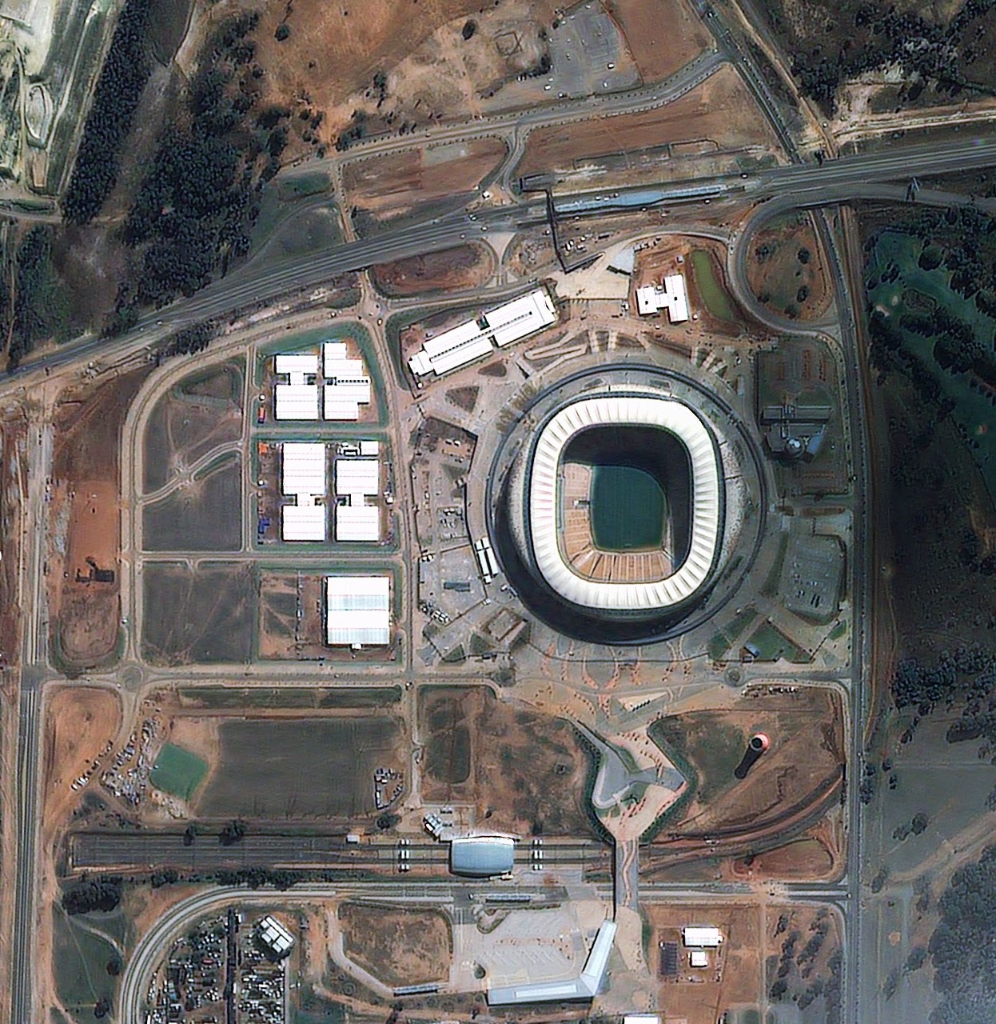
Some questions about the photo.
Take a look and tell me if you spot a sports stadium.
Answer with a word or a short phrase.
Yes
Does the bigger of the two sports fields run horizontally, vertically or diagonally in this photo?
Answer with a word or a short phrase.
horizontally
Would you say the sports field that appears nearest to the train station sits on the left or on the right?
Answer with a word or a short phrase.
left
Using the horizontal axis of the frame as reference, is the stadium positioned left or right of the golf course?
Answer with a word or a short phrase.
on the left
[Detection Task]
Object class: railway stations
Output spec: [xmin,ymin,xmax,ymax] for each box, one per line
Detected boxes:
[451,832,514,878]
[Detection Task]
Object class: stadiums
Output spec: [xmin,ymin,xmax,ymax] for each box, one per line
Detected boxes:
[509,383,746,621]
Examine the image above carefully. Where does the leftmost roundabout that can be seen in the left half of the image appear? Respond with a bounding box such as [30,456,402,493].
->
[117,662,147,692]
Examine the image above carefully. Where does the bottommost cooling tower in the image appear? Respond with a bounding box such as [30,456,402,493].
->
[751,732,771,752]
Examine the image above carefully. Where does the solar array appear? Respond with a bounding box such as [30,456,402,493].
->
[662,945,677,977]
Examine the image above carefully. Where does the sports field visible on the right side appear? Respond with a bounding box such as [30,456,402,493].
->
[592,453,666,552]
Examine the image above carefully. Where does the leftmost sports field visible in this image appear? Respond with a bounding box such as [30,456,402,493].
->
[204,720,402,813]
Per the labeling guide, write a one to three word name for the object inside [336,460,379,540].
building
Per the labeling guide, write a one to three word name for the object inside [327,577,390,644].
building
